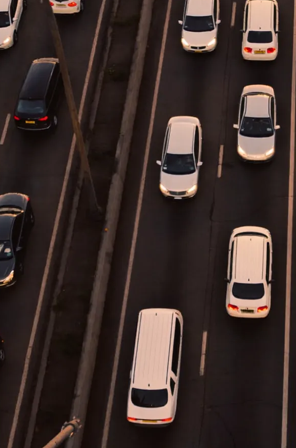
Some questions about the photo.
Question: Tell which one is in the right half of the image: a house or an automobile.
automobile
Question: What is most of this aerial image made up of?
paved ground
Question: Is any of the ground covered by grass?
No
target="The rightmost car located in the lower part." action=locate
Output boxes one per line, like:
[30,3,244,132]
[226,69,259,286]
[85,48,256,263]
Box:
[222,229,275,319]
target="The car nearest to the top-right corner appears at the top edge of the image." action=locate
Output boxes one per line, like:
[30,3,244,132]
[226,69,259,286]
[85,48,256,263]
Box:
[238,0,281,61]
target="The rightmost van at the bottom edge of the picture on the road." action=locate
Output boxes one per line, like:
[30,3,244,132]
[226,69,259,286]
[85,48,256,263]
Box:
[122,313,184,427]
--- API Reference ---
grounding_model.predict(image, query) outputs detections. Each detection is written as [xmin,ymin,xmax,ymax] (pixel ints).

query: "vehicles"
[9,61,63,130]
[238,0,281,61]
[178,0,220,52]
[48,0,84,14]
[122,313,184,427]
[0,0,27,50]
[156,120,203,199]
[233,87,279,163]
[0,195,32,287]
[222,229,275,319]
